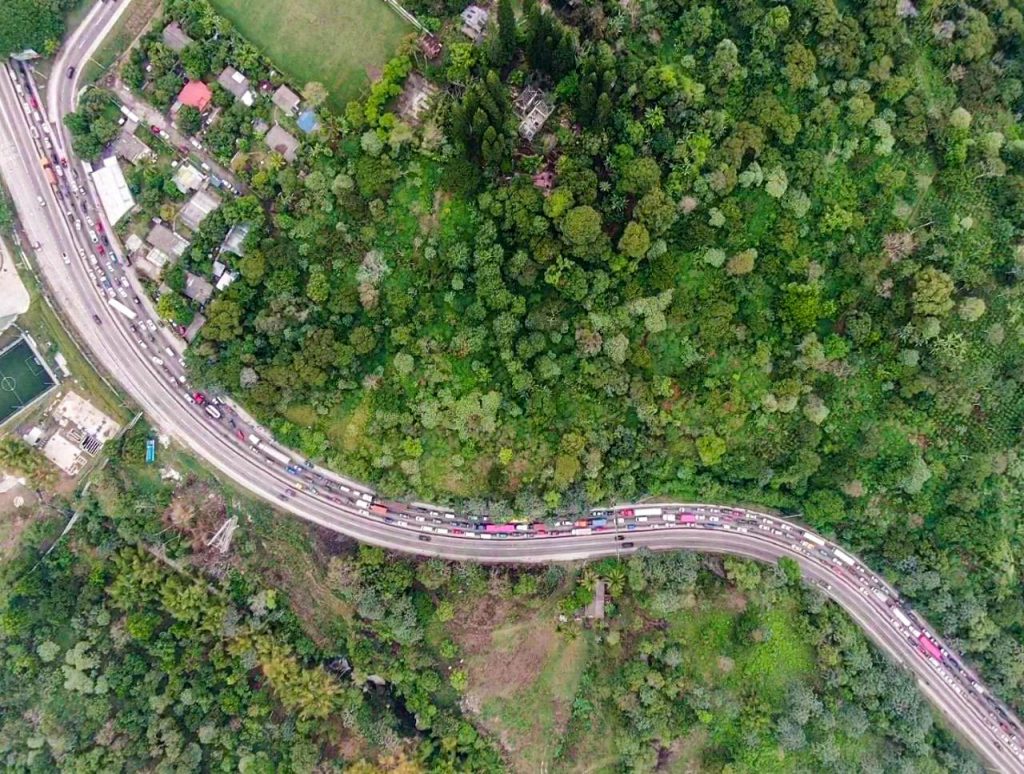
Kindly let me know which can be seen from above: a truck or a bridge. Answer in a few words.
truck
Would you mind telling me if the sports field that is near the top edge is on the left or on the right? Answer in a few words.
left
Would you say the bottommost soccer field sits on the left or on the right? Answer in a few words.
left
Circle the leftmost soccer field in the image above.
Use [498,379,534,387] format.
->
[0,339,57,425]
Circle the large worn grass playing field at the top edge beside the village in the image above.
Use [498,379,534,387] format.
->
[214,0,416,114]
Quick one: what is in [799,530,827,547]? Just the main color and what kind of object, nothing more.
white vehicle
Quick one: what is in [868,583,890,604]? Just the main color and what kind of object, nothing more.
white truck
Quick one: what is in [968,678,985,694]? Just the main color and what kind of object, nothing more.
white vehicle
